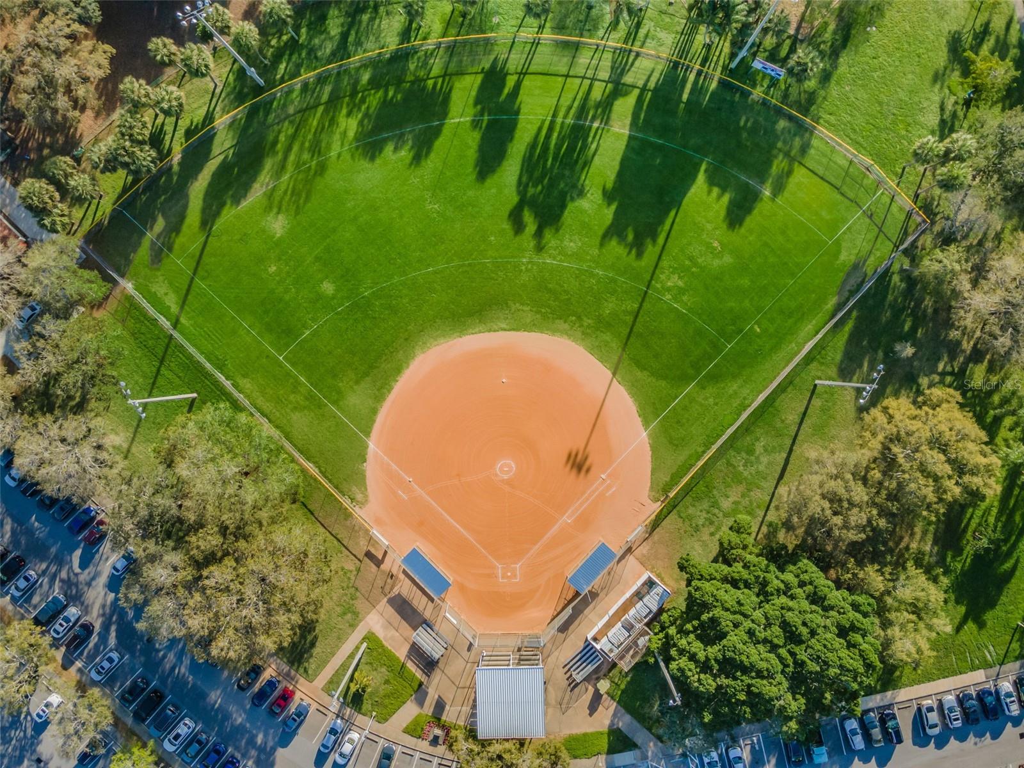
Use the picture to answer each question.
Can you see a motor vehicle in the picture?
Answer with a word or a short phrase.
Yes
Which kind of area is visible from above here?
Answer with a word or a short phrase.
sports ground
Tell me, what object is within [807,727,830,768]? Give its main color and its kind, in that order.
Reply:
blue truck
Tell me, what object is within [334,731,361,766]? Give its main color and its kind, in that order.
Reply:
white car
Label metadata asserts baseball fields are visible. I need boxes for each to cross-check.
[93,40,919,634]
